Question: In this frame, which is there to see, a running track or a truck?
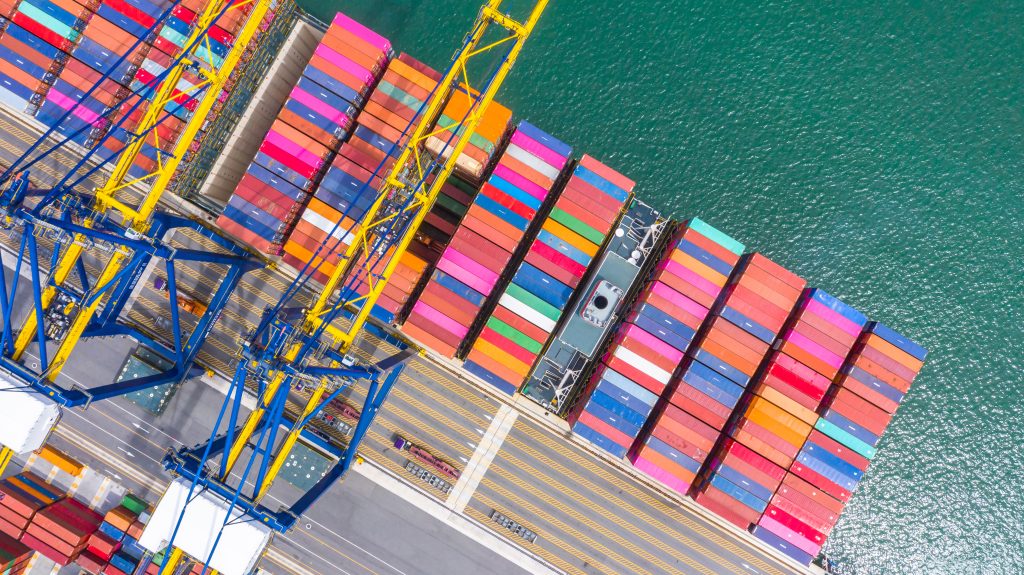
truck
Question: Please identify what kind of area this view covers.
port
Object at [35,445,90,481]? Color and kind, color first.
orange shipping container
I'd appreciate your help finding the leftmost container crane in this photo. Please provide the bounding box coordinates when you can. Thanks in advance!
[0,0,271,476]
